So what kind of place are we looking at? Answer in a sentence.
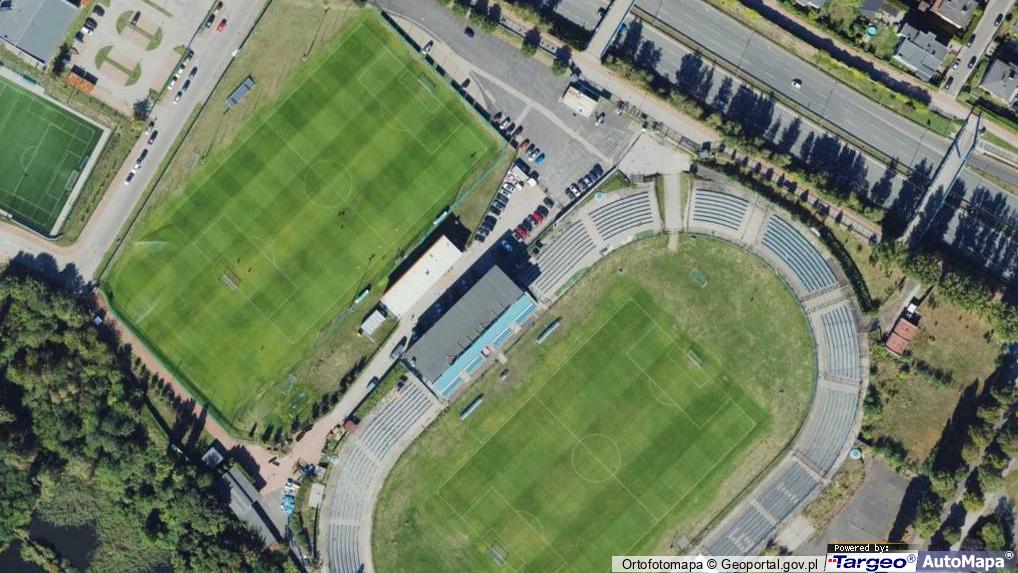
The picture captures a sports ground.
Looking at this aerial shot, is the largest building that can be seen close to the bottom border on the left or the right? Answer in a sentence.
The largest building that can be seen close to the bottom border appears in the left half of the scene.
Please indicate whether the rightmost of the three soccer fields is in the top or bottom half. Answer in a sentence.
You can find the rightmost of the three soccer fields in the bottom half.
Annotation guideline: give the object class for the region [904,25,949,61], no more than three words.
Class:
house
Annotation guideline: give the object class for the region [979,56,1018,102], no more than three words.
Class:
house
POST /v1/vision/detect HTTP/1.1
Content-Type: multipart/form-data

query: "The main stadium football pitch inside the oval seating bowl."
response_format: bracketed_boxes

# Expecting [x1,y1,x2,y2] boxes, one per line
[372,232,817,573]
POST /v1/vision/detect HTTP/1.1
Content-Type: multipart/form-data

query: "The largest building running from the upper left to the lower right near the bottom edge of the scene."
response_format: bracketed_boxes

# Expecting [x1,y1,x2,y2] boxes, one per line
[217,471,276,551]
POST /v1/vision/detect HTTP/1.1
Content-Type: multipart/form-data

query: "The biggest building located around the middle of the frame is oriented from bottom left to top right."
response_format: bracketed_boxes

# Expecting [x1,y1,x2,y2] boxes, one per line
[380,236,463,318]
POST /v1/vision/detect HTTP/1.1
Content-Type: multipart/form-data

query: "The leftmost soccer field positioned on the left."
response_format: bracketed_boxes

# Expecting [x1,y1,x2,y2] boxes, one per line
[0,60,110,238]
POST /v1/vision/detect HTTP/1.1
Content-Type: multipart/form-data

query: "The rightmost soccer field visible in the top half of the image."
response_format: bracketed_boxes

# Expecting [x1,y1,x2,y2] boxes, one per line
[102,6,507,431]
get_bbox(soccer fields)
[0,60,110,238]
[102,6,507,431]
[372,232,817,573]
